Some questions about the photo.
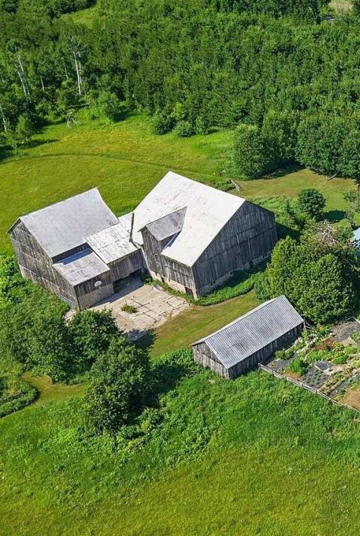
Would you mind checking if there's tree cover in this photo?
Yes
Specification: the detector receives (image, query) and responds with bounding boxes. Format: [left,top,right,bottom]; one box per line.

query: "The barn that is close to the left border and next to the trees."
[5,188,128,309]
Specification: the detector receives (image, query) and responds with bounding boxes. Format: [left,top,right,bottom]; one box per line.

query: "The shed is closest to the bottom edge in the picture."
[186,294,308,379]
